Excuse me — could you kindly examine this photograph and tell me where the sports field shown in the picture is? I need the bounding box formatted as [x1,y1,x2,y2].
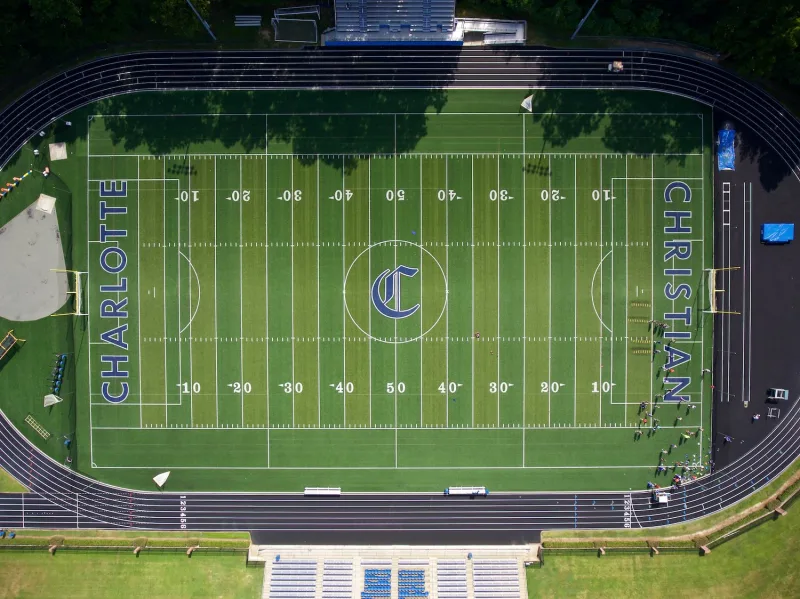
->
[88,114,704,468]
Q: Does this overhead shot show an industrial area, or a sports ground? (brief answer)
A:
sports ground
